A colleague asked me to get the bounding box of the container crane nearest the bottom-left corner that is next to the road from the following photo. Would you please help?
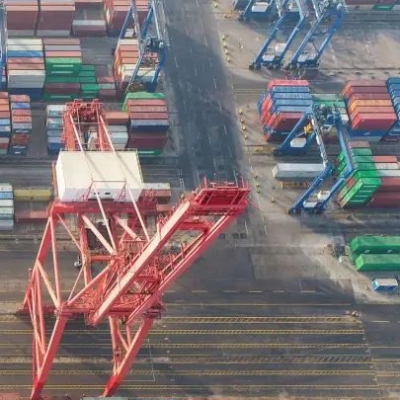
[15,98,252,400]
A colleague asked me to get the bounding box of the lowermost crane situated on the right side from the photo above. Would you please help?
[271,104,356,213]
